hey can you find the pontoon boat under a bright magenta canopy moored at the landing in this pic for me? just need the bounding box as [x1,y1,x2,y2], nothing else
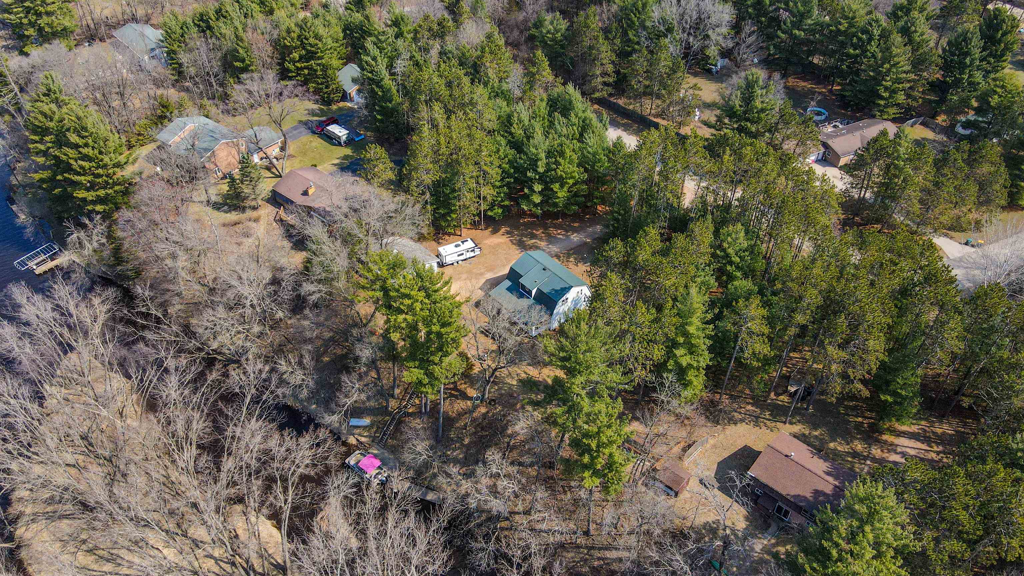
[347,451,388,487]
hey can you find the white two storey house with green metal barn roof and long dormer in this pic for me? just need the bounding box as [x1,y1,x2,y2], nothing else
[489,250,591,336]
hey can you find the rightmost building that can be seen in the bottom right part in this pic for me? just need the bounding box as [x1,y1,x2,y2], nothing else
[742,430,870,545]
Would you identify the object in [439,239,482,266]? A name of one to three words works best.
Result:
trailer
